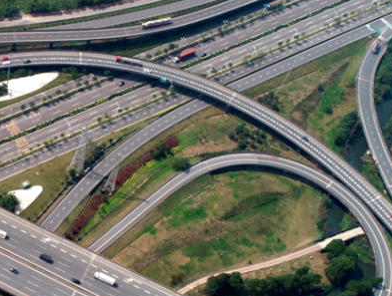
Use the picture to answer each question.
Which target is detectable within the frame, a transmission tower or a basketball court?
transmission tower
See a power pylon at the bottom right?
No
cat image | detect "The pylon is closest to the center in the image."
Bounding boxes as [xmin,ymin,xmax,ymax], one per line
[98,149,128,194]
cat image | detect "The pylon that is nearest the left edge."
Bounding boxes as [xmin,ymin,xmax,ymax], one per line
[68,125,95,175]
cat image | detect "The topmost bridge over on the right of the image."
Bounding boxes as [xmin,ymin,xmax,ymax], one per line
[355,38,392,199]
